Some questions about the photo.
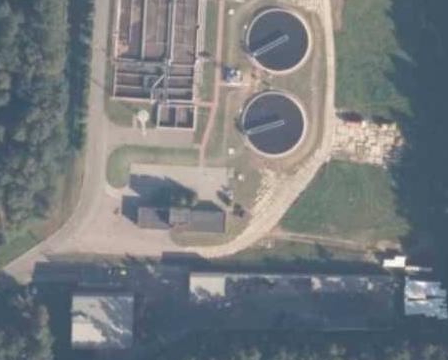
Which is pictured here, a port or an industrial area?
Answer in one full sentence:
The area seen from above is an industrial area.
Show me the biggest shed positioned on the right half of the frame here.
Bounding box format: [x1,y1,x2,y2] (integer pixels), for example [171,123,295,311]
[190,272,403,328]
